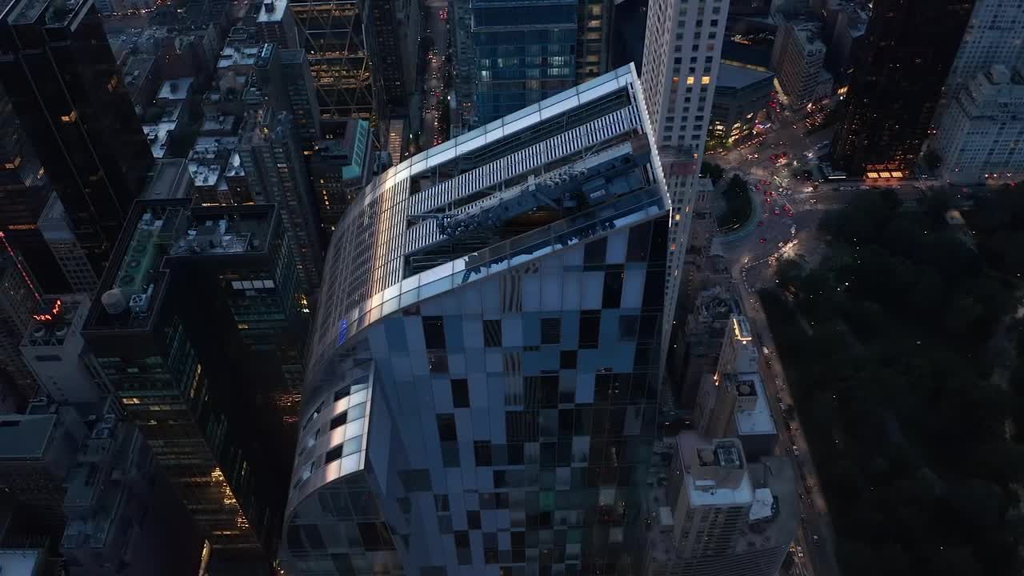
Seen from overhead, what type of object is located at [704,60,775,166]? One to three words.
building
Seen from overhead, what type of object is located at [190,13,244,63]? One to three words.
building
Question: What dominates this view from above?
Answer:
buildings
